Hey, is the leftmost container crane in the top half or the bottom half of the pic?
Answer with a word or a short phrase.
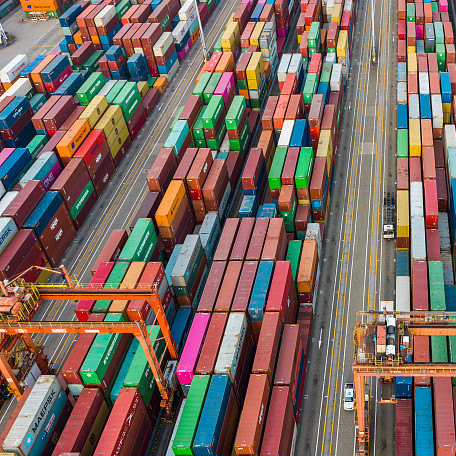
bottom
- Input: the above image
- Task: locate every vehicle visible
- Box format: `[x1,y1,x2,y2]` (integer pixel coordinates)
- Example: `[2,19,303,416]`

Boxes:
[381,188,395,236]
[340,379,354,408]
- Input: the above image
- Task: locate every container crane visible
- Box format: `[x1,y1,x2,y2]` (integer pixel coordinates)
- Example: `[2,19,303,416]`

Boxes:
[0,267,183,428]
[349,313,456,456]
